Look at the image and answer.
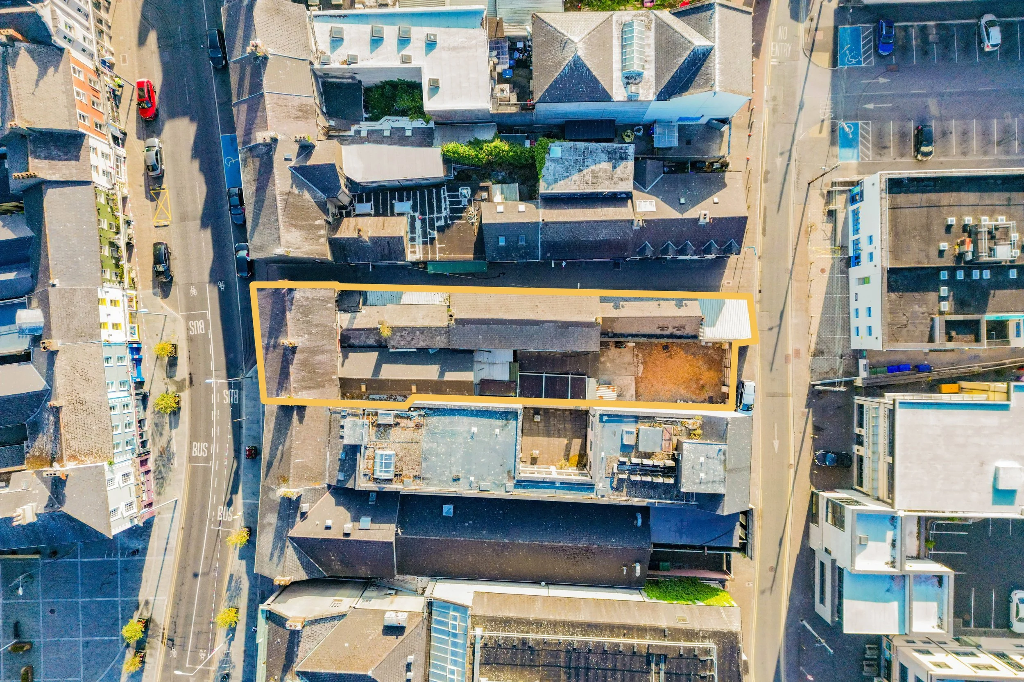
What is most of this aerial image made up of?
buildings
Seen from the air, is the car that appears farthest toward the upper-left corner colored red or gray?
red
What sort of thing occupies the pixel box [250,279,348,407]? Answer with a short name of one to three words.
house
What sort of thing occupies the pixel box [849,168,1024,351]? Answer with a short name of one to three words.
building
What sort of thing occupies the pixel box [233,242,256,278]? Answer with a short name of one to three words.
car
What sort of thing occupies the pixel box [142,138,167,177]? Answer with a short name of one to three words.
car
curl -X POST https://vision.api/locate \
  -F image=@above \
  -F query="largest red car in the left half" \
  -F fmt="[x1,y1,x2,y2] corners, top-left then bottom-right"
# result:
[136,80,160,119]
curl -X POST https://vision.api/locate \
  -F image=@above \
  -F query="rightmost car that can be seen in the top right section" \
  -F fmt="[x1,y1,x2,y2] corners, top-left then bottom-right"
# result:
[976,13,1001,52]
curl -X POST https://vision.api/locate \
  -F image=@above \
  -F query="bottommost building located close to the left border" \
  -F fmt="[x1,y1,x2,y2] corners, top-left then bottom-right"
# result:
[0,459,148,551]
